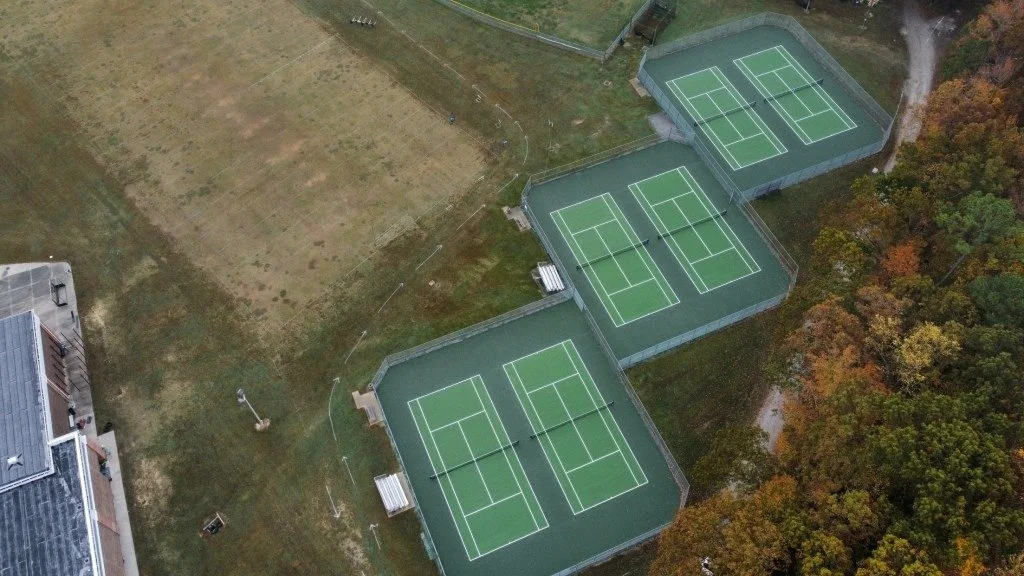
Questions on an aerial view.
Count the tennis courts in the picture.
six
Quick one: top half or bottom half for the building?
bottom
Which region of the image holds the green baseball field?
top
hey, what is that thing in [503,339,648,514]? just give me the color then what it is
green tennis court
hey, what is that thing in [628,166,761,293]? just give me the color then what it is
green tennis court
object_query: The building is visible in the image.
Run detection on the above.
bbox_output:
[0,317,126,576]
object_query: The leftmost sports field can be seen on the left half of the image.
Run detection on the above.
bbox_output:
[0,0,528,370]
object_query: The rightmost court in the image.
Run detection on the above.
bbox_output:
[734,45,857,144]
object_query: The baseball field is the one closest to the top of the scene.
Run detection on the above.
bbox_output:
[439,0,653,60]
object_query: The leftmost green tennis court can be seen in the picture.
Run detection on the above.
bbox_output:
[408,375,549,560]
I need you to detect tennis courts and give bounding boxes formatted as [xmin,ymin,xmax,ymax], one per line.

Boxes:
[550,192,680,326]
[408,375,549,560]
[503,339,648,514]
[628,166,761,293]
[734,45,857,144]
[667,66,788,170]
